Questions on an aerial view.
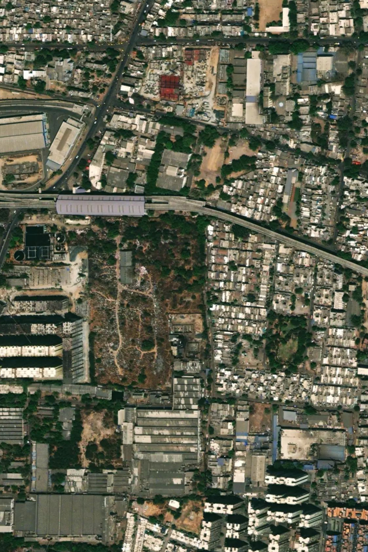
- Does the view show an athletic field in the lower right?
No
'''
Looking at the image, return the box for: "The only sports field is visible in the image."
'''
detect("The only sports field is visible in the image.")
[193,137,227,187]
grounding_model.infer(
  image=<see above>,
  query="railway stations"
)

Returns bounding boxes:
[56,195,146,215]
